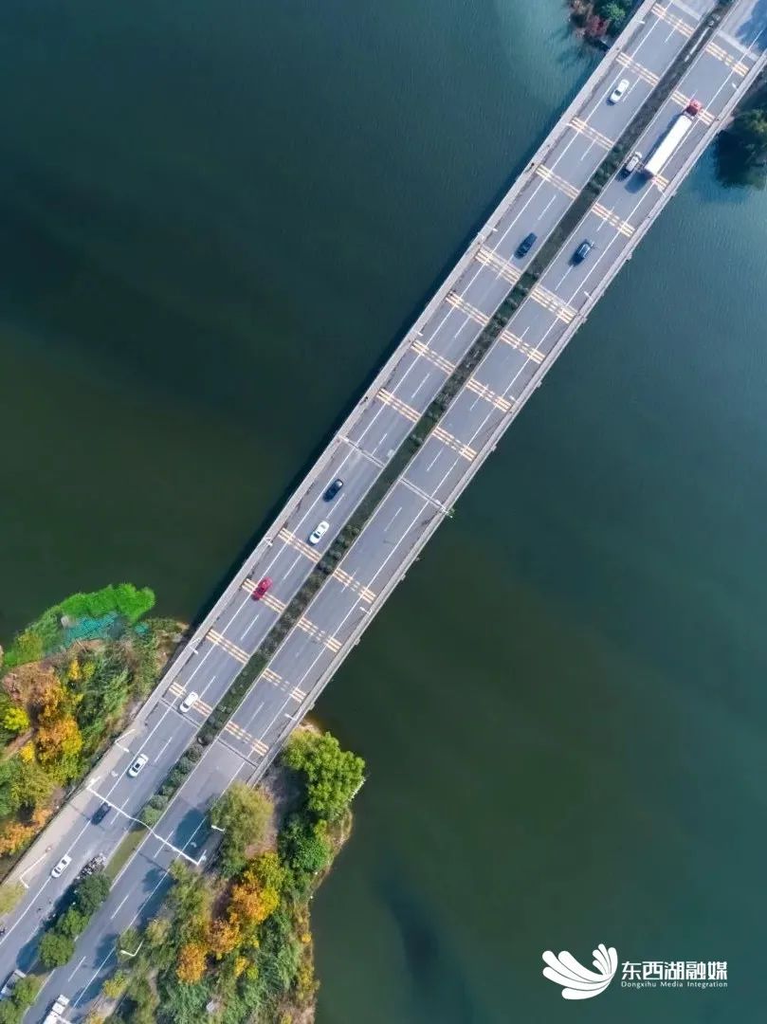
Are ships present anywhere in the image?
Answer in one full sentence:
No, the scene contains no ship.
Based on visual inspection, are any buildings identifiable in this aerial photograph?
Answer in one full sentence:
No, the scene contains no building.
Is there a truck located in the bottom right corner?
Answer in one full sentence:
No, I see no truck in the bottom right corner.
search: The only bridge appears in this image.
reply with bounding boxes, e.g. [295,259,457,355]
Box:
[150,0,767,778]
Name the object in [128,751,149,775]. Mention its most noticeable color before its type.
white car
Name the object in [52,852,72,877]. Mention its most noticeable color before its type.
white car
